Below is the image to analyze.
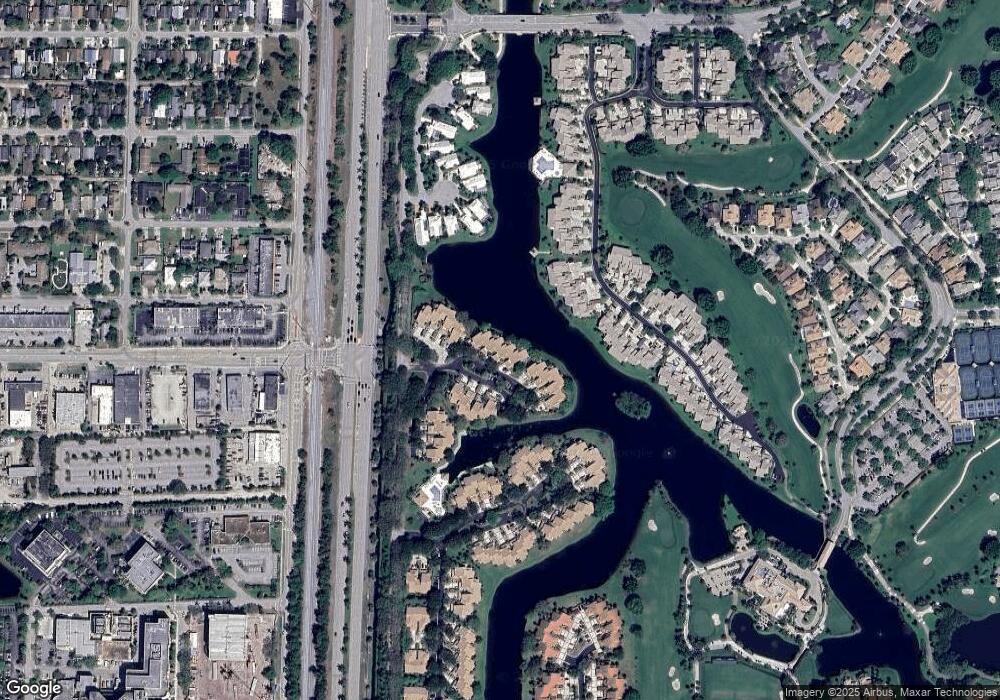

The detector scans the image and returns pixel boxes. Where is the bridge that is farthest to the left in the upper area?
[497,14,541,34]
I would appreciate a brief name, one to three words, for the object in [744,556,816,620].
building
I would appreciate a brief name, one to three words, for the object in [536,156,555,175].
swimming pool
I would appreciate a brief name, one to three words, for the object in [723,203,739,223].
house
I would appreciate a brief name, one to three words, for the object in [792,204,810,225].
house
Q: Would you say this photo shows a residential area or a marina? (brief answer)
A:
residential area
